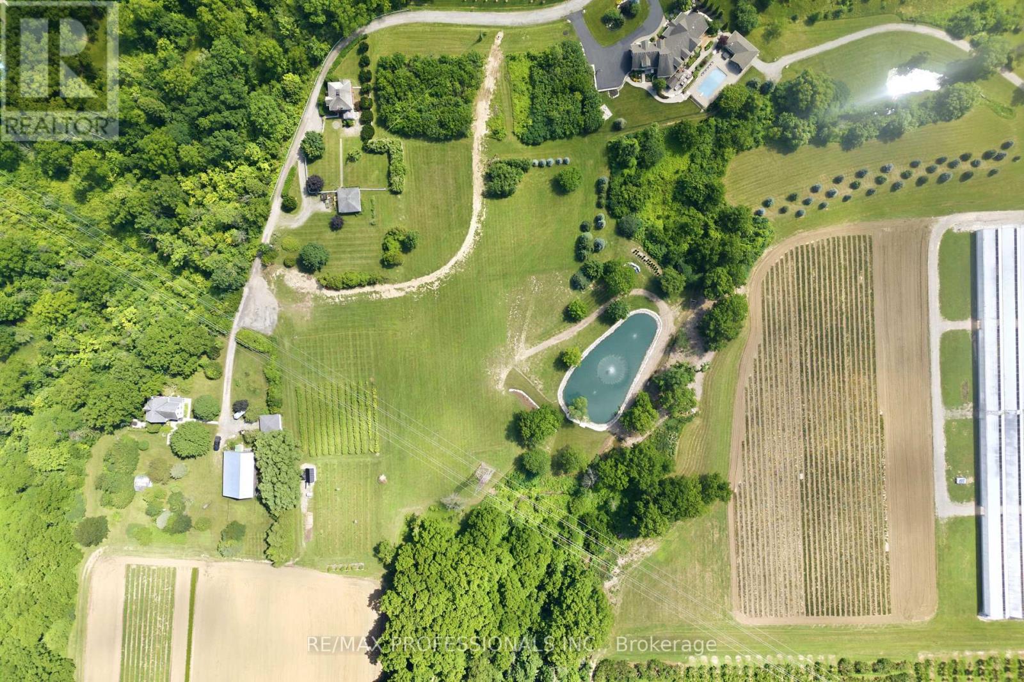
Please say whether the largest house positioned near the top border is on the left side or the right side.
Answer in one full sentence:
The largest house positioned near the top border appears in the right half of the scene.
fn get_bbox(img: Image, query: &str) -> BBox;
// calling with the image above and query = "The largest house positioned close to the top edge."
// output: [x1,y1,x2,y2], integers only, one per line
[630,9,709,81]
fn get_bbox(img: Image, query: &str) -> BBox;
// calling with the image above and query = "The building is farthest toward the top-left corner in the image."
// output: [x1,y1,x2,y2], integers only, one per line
[325,81,359,120]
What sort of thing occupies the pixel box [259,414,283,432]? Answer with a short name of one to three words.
shed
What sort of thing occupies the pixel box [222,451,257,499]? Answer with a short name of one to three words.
barn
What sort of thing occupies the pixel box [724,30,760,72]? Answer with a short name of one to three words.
building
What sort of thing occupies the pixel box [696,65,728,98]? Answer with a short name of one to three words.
swimming pool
